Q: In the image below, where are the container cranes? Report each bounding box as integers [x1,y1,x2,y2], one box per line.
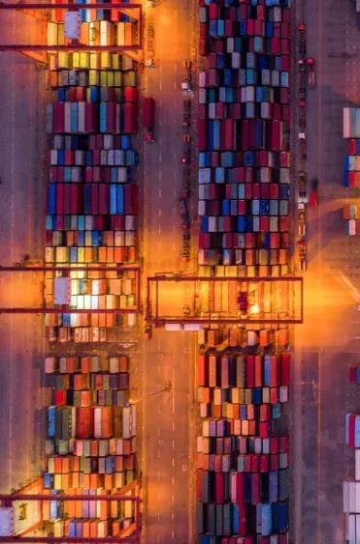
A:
[0,255,150,318]
[147,265,304,331]
[0,2,152,68]
[0,473,149,544]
